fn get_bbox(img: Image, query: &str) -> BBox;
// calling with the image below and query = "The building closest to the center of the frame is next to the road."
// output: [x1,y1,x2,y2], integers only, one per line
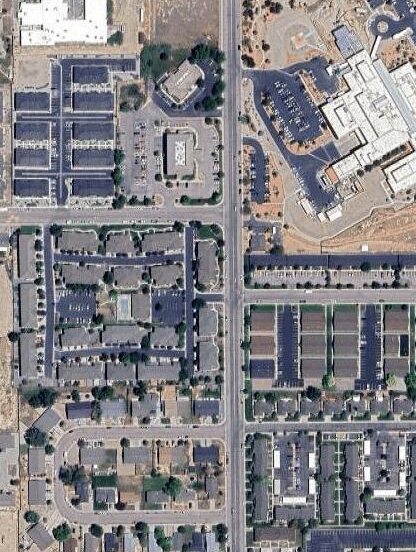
[194,241,220,290]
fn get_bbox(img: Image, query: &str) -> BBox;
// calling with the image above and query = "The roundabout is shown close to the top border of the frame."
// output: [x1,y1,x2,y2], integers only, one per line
[368,11,407,39]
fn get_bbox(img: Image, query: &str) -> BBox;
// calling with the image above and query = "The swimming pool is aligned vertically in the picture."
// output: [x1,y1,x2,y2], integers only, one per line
[118,293,131,319]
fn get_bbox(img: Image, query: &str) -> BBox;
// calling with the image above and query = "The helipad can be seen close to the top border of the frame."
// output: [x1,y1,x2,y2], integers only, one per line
[266,16,328,68]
